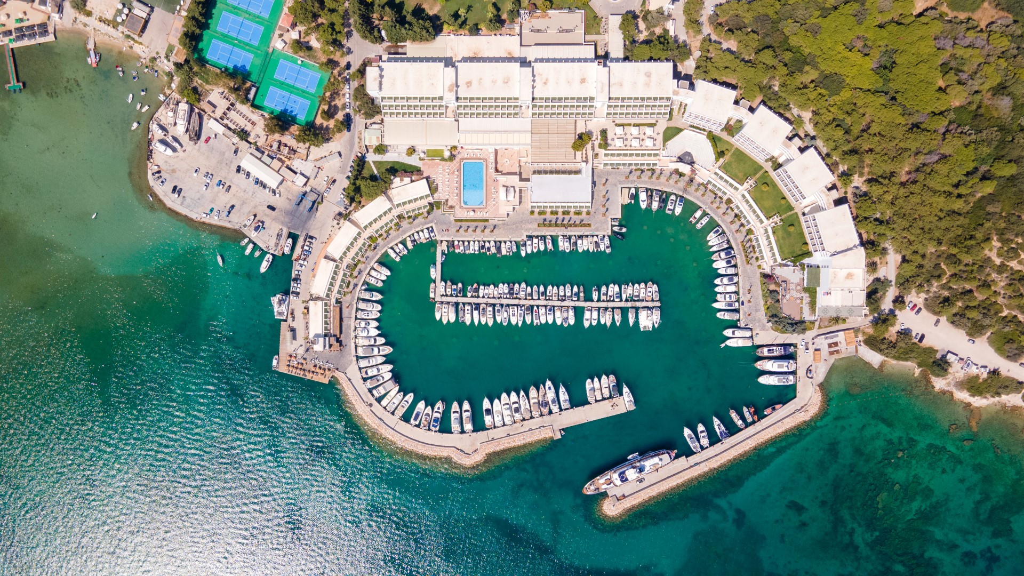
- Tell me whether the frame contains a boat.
Yes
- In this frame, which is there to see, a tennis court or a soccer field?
tennis court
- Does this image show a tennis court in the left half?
Yes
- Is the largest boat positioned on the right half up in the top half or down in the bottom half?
bottom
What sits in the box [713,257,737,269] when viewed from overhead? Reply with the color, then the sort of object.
white boat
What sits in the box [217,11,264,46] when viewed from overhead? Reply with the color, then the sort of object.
blue tennis court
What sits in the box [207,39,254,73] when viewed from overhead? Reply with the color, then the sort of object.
blue tennis court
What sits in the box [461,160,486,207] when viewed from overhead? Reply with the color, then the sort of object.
blue swimming pool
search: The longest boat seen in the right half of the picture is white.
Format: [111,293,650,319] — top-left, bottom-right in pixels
[583,449,676,493]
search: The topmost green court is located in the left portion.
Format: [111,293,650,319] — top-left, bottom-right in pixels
[193,0,285,82]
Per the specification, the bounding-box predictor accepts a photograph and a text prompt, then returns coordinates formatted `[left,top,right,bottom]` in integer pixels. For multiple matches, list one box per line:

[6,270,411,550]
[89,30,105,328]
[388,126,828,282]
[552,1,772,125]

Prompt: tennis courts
[264,86,310,120]
[274,59,320,94]
[193,0,285,82]
[217,11,264,46]
[227,0,274,18]
[207,39,254,73]
[251,49,331,125]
